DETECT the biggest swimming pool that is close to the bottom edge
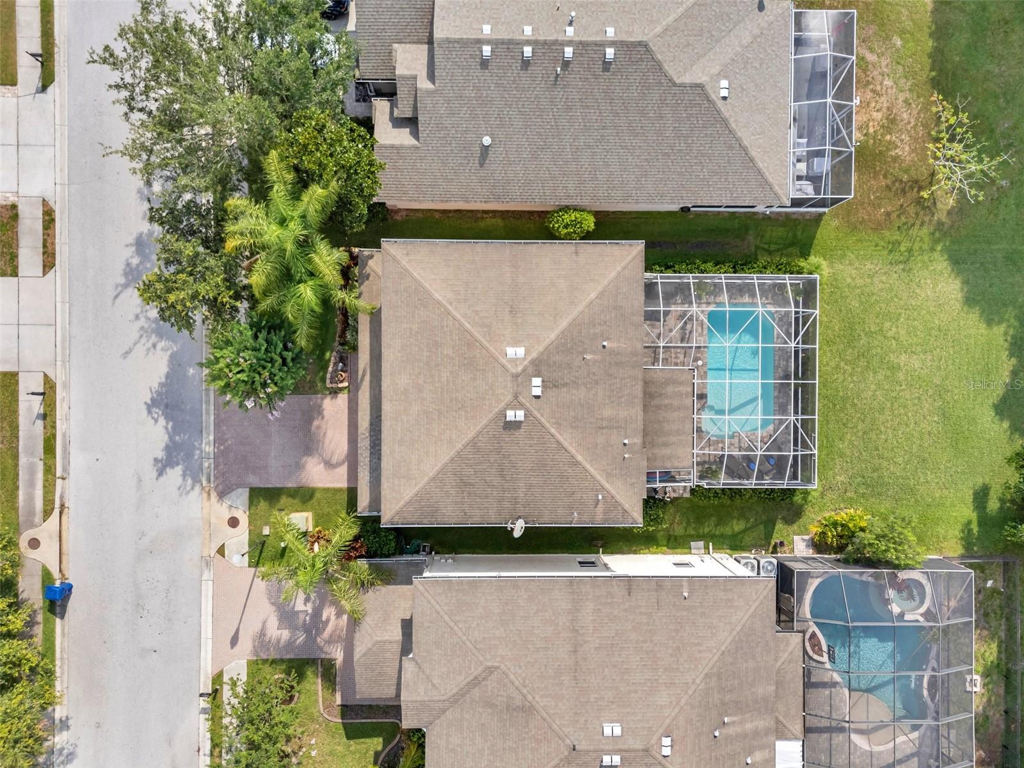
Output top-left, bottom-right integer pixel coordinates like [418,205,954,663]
[804,571,944,753]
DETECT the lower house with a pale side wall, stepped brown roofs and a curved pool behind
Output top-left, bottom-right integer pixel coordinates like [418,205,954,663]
[352,546,806,768]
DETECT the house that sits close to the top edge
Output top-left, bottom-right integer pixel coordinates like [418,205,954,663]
[351,0,797,211]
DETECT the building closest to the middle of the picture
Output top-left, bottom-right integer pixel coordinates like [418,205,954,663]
[356,238,698,529]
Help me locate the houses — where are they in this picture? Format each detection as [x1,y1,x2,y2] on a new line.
[351,0,797,211]
[352,546,806,768]
[356,238,698,529]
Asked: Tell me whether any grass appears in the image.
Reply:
Yes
